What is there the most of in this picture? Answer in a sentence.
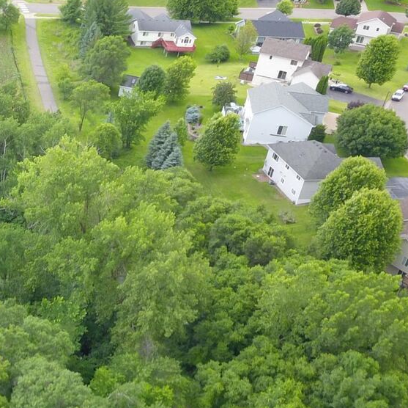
Most of the picture is covered by trees.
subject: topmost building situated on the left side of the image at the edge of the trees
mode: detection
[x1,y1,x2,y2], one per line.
[115,5,204,56]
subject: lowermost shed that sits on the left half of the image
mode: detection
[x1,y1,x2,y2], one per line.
[118,78,140,97]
